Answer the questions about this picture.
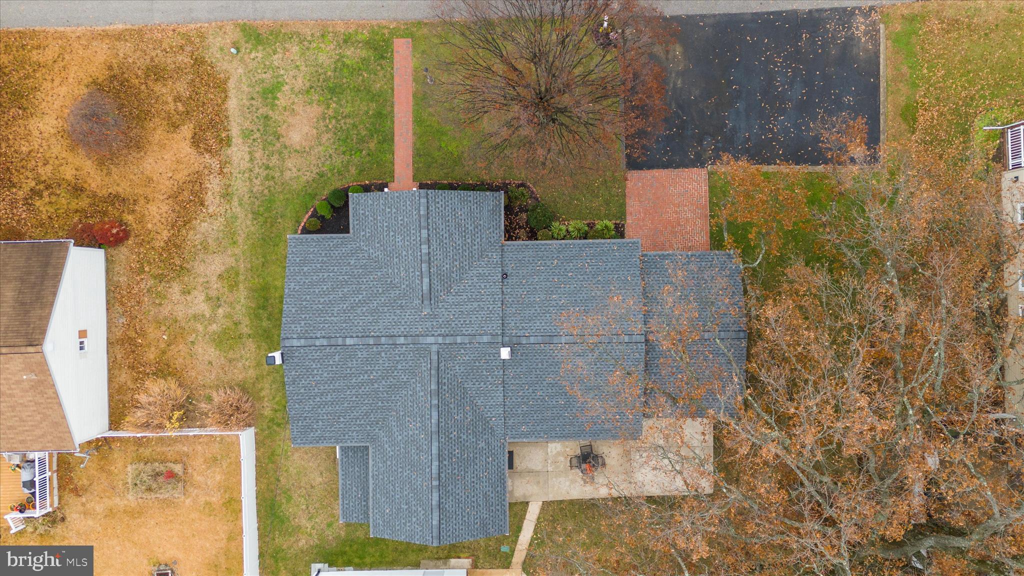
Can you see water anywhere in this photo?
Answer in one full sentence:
No, no water is visible.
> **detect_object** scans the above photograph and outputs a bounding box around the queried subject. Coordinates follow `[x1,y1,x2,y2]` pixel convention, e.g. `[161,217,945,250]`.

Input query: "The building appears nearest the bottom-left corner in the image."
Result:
[0,238,109,456]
